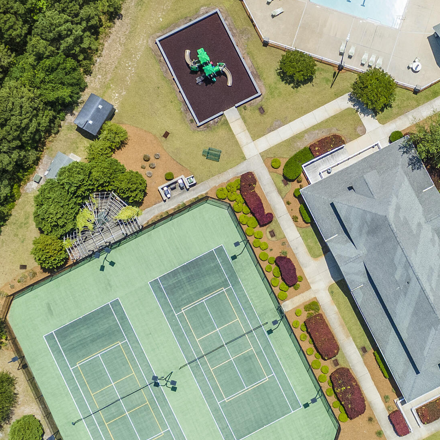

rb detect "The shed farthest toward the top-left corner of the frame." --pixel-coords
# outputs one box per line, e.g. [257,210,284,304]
[74,93,114,134]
